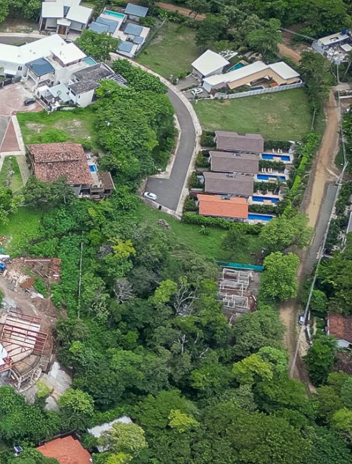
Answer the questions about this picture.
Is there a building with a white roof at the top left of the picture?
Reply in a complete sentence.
Yes, at the top left of the picture there is a building with a white roof.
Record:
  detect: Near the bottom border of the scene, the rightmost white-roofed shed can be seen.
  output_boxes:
[86,424,109,459]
